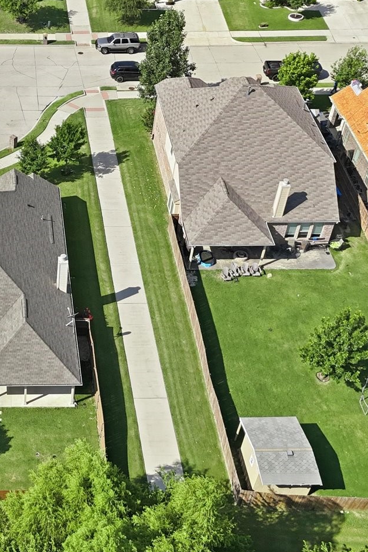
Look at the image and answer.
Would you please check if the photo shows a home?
Yes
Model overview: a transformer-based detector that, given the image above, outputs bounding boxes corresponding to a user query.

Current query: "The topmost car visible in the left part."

[95,29,141,53]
